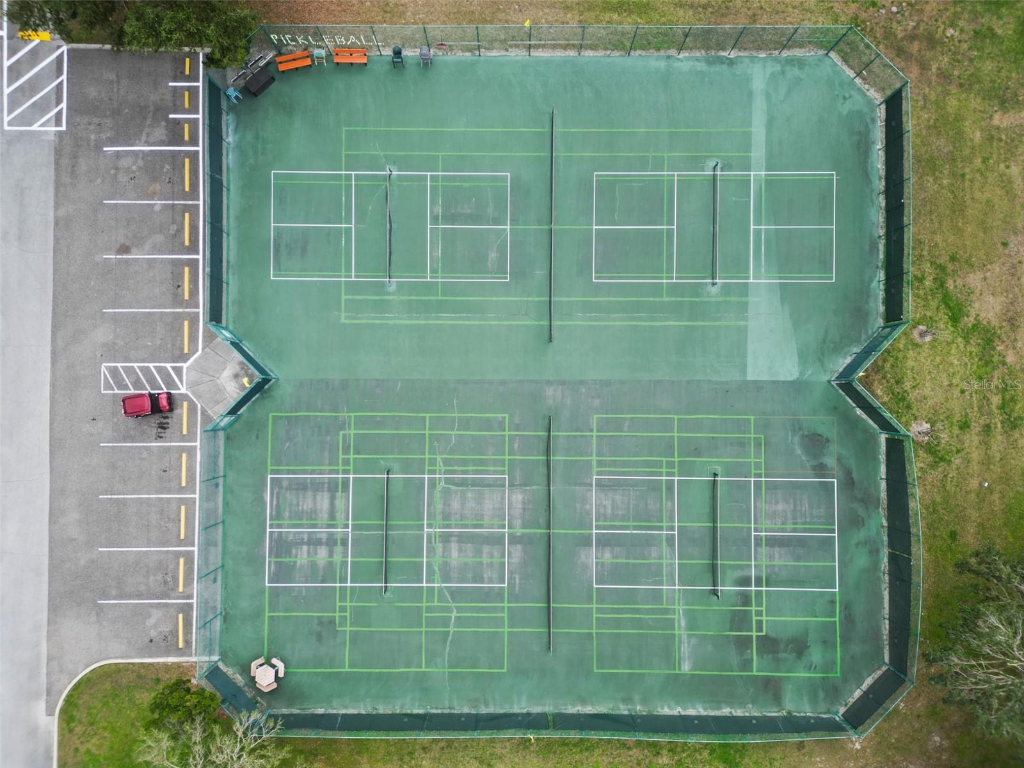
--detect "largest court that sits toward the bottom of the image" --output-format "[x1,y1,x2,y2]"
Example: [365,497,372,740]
[221,378,884,712]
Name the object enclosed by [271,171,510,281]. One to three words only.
sports court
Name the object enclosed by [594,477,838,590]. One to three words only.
sports court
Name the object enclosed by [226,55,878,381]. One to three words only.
tennis court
